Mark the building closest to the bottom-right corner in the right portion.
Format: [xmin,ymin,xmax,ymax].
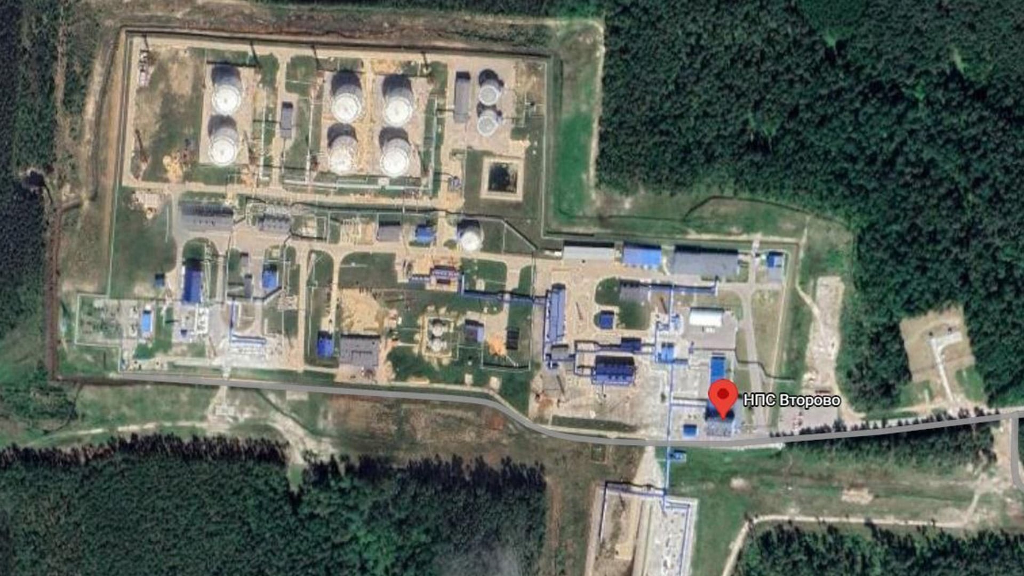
[706,413,734,437]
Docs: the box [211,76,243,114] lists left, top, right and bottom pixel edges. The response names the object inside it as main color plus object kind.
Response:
white storage tank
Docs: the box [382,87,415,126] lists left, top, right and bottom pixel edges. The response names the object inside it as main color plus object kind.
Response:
white storage tank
